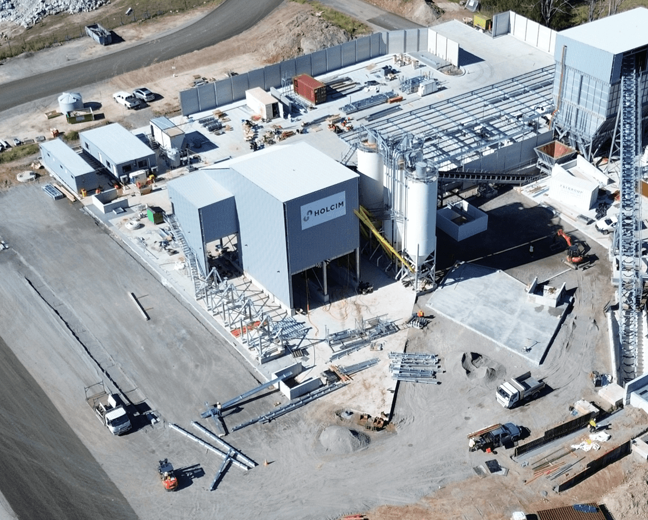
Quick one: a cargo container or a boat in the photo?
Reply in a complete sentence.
The image shows a cargo container.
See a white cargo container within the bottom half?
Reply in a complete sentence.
No, I can find no white cargo container within the bottom half.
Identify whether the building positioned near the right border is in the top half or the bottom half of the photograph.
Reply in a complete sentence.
Seen from above, the building positioned near the right border lies in the top half of the view.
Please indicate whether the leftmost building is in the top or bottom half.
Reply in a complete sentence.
The leftmost building is in the top half of the image.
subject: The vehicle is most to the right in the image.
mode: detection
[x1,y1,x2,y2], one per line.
[591,211,626,231]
